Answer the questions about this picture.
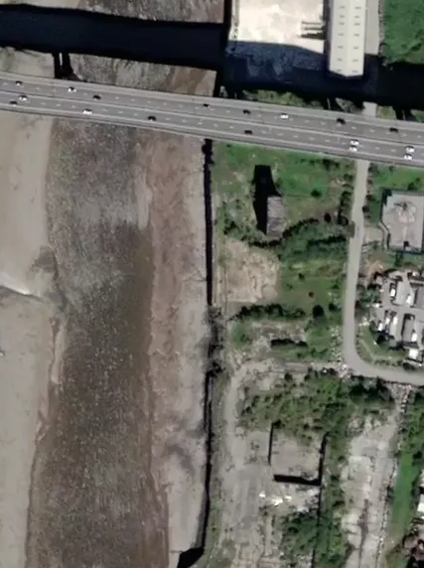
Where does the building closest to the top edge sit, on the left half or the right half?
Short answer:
right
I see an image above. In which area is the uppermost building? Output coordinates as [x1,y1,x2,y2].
[325,0,367,77]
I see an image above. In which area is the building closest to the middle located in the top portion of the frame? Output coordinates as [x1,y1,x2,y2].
[261,193,283,236]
